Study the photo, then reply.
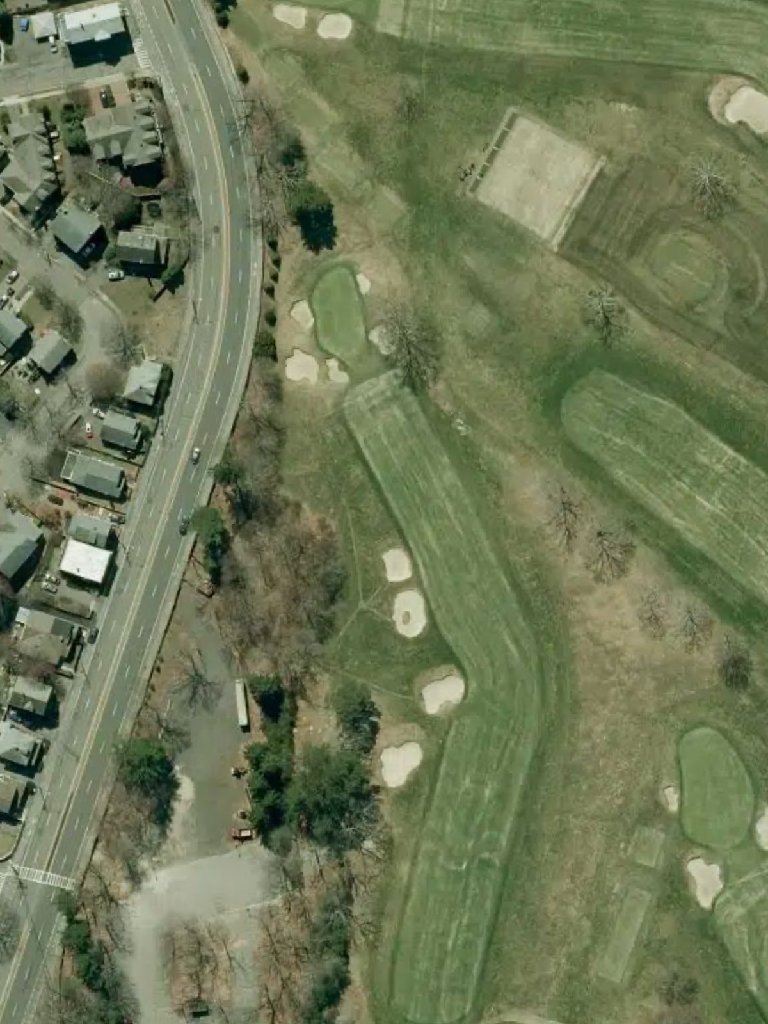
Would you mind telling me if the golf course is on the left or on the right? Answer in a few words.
right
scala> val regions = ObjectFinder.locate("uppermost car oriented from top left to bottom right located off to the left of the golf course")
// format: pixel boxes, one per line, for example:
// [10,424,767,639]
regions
[91,408,106,420]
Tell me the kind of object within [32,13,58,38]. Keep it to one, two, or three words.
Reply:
building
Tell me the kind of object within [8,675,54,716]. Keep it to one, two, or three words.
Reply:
house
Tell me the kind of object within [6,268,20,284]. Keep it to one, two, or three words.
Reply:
car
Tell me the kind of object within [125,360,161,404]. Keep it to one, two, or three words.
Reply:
house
